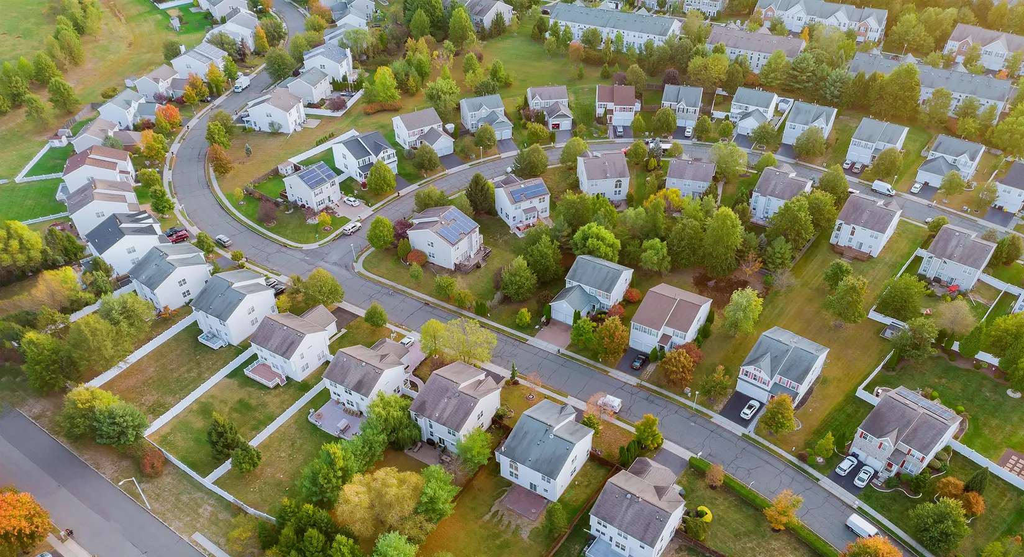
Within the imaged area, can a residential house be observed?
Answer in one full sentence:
Yes, the frame does contain a residential house.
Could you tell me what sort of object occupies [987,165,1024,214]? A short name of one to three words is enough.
house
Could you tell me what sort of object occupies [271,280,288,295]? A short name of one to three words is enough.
car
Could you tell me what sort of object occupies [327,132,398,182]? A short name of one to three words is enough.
house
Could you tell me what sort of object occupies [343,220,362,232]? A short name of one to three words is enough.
vehicle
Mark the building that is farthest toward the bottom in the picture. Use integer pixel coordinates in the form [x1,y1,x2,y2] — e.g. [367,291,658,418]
[572,455,682,557]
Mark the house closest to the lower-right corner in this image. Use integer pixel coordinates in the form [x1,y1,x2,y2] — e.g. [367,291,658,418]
[854,381,962,479]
